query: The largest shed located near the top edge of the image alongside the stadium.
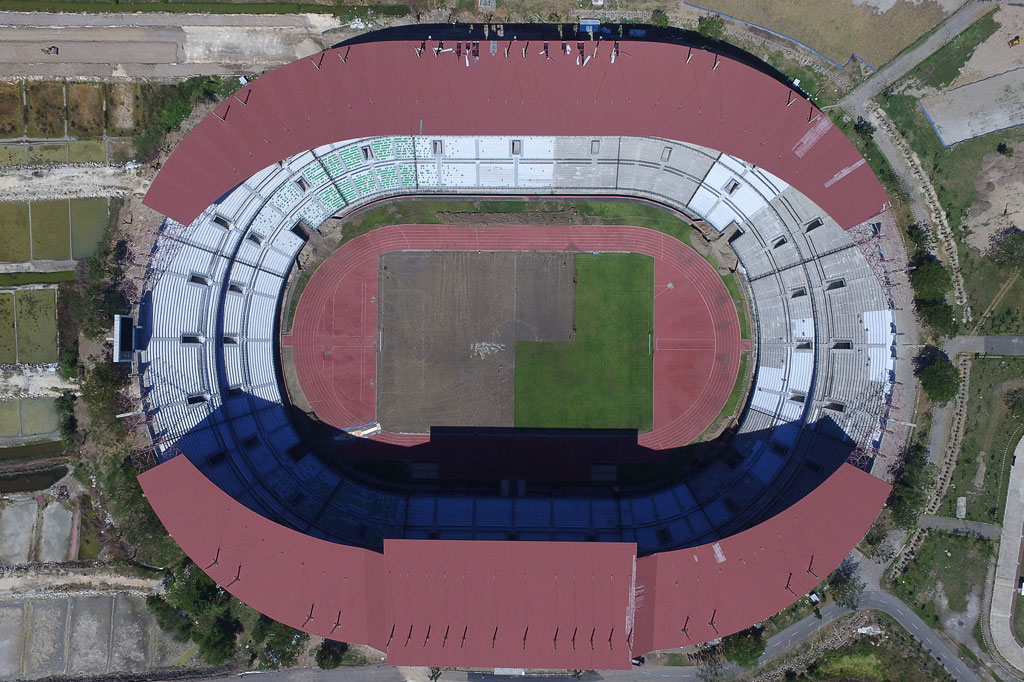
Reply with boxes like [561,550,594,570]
[580,18,600,36]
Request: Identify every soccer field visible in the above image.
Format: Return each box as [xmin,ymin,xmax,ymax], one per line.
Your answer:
[376,251,654,434]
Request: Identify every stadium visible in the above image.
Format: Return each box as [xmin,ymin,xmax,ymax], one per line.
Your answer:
[112,41,920,669]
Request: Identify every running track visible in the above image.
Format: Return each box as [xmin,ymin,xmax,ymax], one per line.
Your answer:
[282,226,749,479]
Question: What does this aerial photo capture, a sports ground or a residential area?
sports ground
